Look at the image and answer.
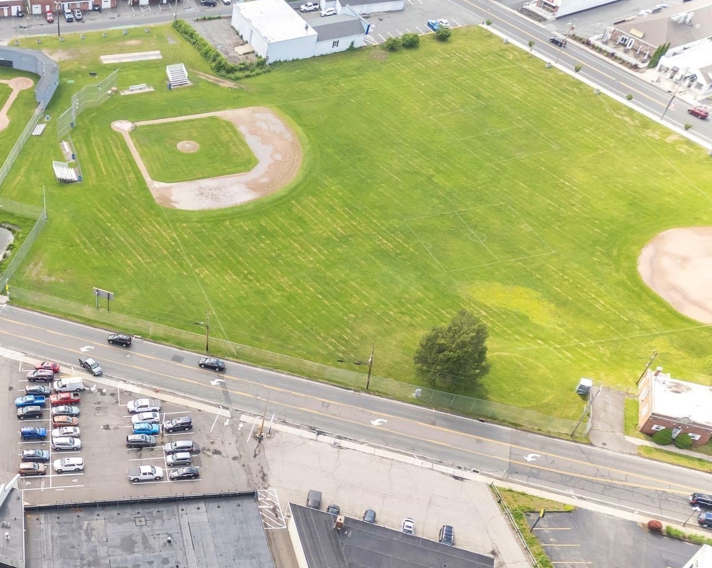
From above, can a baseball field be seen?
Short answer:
Yes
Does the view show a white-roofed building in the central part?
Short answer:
No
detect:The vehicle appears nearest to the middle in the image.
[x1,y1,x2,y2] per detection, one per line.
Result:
[198,357,226,373]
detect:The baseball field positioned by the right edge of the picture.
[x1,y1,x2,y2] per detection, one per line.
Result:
[521,94,712,349]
